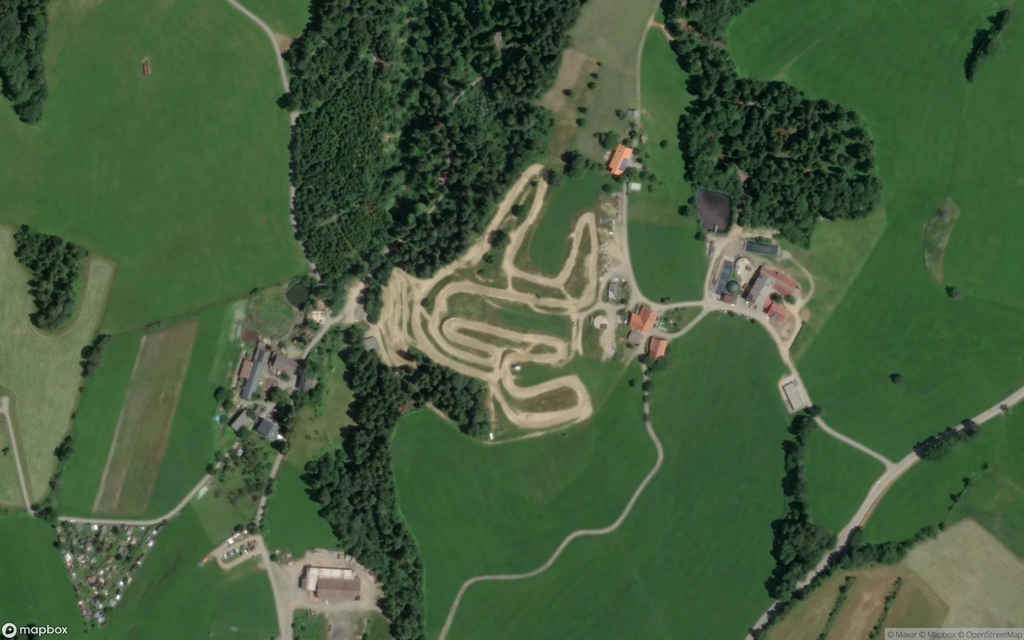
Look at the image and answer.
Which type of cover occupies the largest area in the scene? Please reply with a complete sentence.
What you mostly see from above here is grass.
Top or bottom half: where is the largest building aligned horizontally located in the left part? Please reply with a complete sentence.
Seen from above, the largest building aligned horizontally located in the left part lies in the bottom half of the view.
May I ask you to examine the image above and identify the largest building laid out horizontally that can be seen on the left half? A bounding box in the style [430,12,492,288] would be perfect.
[317,579,360,600]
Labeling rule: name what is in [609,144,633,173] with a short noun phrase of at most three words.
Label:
house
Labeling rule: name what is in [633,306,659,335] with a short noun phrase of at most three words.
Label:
house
